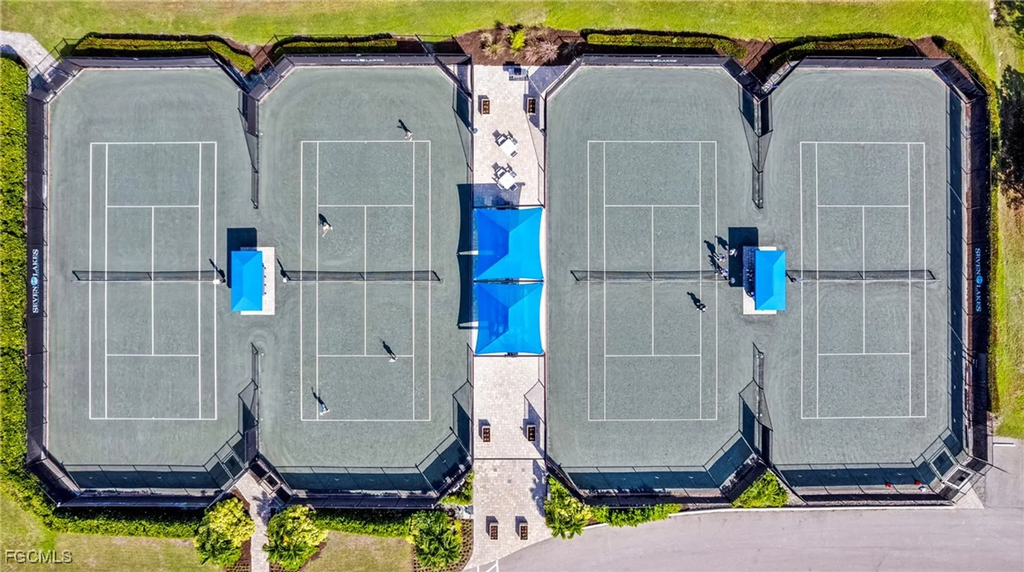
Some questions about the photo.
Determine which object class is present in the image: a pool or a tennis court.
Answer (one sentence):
It is a tennis court that can be seen here.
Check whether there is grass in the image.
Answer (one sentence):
Yes, the picture does contain grass.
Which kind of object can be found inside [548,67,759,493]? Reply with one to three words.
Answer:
tennis court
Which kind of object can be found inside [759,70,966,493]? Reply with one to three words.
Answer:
tennis court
